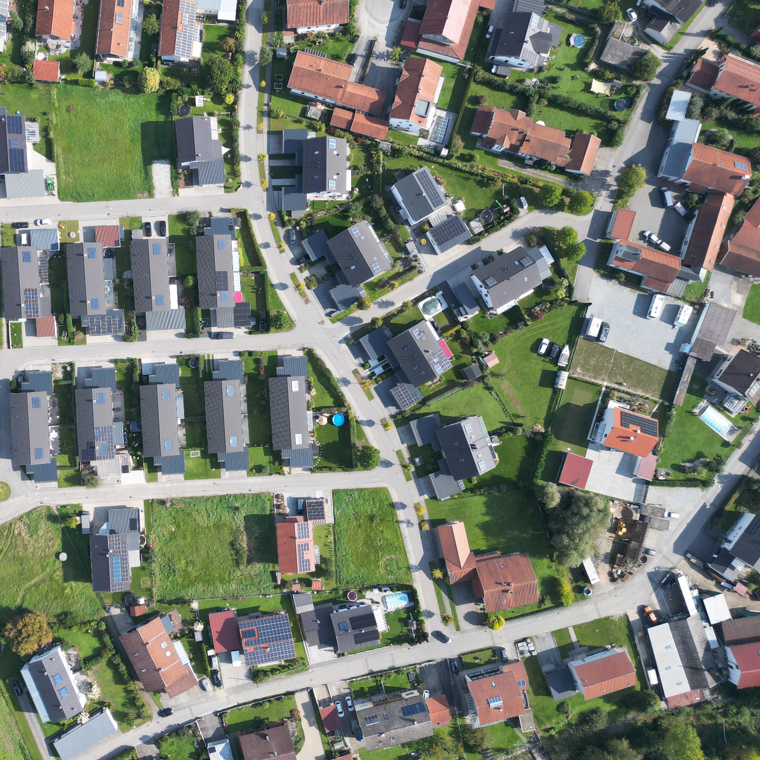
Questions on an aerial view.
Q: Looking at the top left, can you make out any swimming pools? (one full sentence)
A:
No, at the top left there is no swimming pool.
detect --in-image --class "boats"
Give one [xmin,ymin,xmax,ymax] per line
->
[557,345,569,366]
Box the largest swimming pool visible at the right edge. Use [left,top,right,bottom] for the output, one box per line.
[696,402,738,439]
